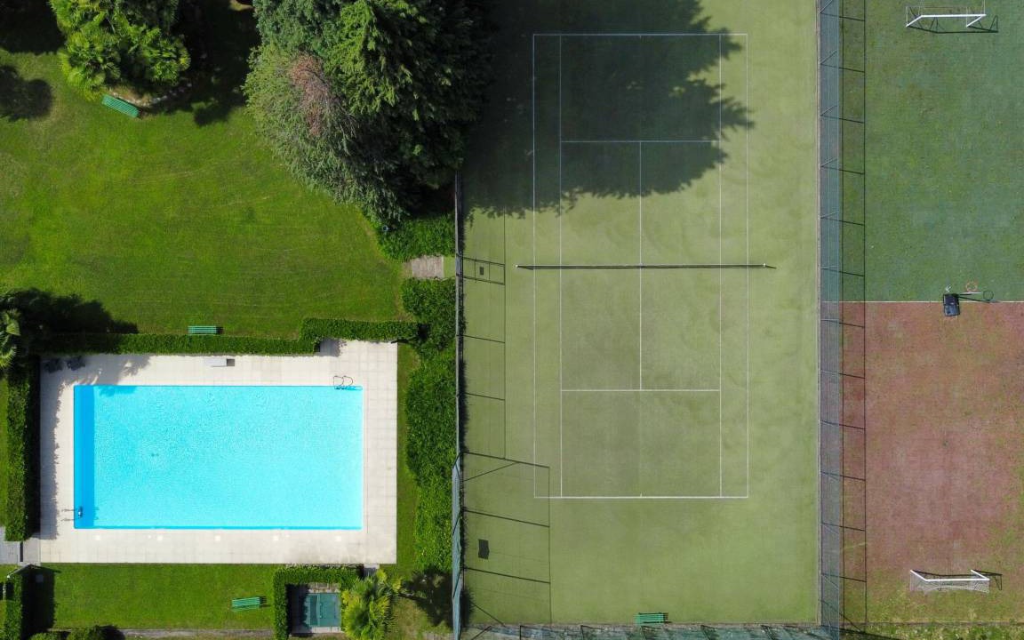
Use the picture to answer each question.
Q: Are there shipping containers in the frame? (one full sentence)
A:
No, no shipping container is visible in the scene.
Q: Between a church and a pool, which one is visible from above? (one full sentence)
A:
The image shows a pool.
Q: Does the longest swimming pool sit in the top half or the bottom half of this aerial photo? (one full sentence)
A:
Seen from above, the longest swimming pool lies in the bottom half of the view.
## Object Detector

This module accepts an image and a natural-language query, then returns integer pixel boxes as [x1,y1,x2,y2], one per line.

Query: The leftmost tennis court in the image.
[443,0,816,623]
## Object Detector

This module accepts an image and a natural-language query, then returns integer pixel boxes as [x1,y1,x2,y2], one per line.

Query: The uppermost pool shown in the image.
[57,372,369,541]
